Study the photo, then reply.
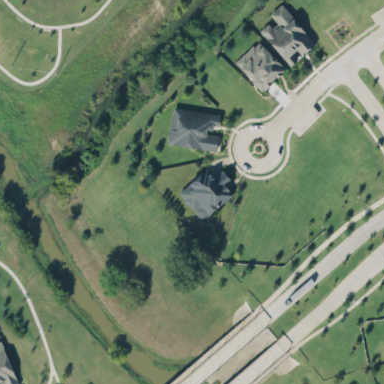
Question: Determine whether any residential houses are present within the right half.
Yes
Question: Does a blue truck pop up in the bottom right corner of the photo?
No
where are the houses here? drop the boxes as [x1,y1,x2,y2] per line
[180,162,236,221]
[168,108,221,152]
[236,42,286,92]
[0,342,18,384]
[261,4,315,66]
